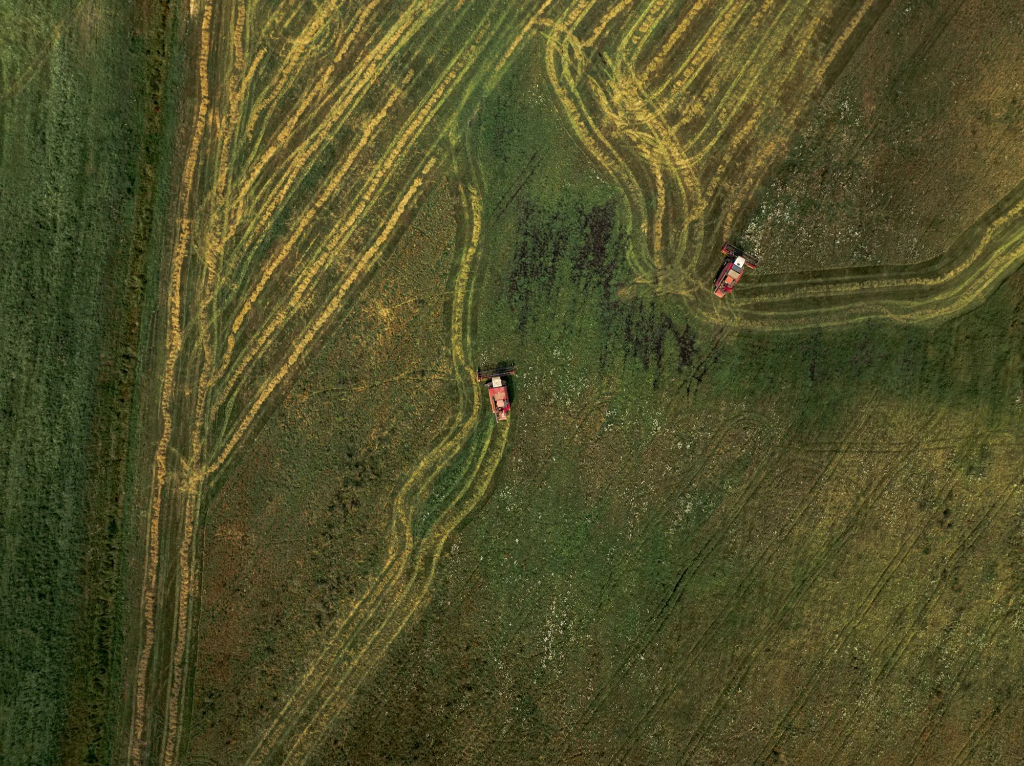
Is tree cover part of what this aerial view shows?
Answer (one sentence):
No, the scene doesn't show any tree cover.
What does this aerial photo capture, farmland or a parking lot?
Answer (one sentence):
It's farmland.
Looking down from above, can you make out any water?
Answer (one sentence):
No, there is no water in the image.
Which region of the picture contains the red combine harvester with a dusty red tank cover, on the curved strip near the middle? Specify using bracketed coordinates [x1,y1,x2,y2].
[474,360,516,426]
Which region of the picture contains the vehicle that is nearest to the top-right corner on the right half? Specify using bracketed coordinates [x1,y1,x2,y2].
[711,240,760,301]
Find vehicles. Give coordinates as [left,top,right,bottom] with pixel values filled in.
[474,360,516,426]
[711,240,760,301]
